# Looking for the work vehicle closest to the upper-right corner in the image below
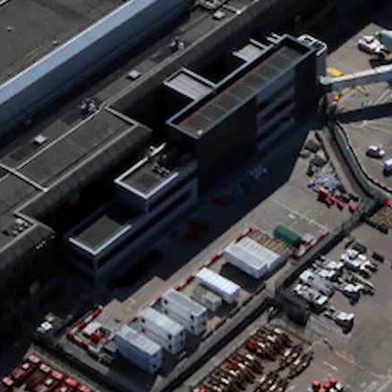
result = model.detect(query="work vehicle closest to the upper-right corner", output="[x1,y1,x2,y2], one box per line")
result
[357,34,384,54]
